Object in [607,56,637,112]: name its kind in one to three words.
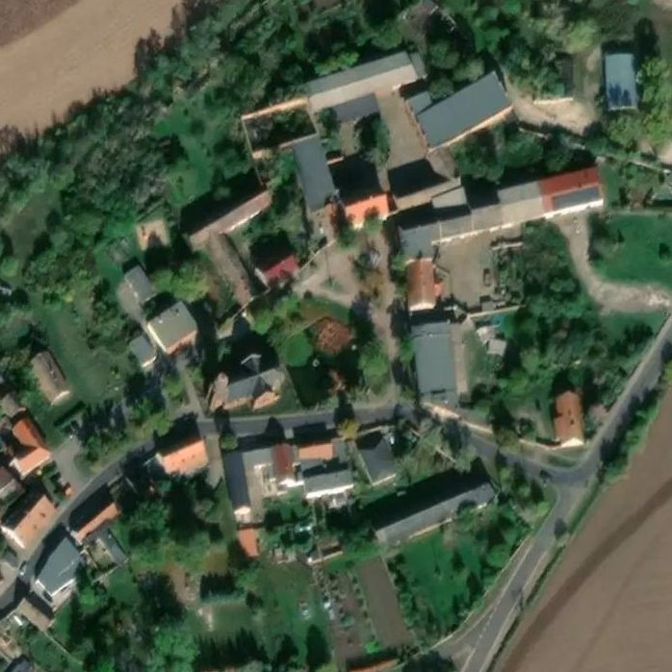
shed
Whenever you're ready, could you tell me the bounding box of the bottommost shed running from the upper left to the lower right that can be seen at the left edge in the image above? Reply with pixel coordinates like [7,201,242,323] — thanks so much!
[17,596,55,633]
